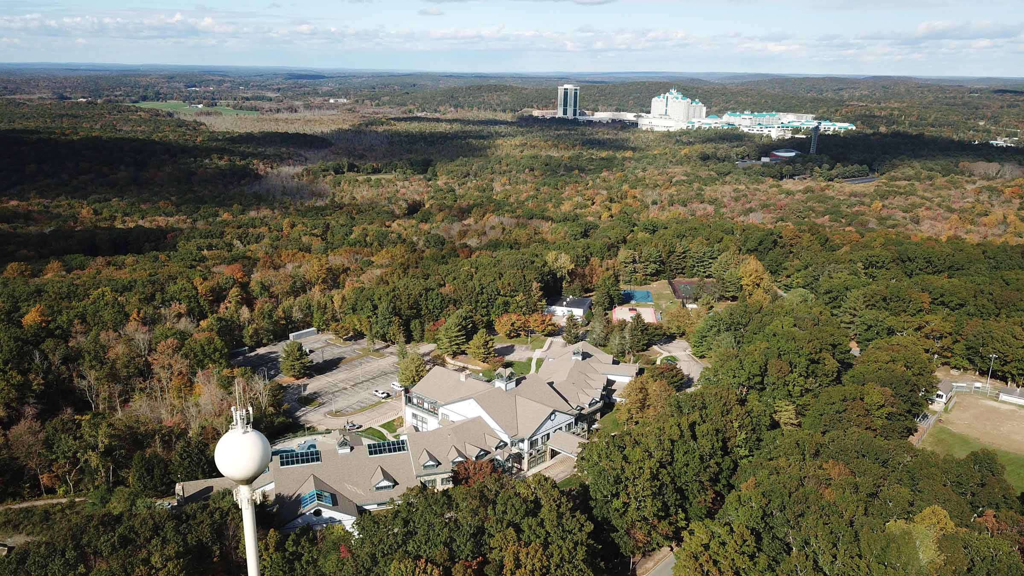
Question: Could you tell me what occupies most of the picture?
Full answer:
What you mostly see from above here is trees.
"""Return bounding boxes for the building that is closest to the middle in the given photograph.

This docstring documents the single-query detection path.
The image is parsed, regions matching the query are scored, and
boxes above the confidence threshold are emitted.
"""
[547,295,596,319]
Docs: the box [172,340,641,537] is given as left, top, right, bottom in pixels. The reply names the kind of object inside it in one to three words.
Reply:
building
